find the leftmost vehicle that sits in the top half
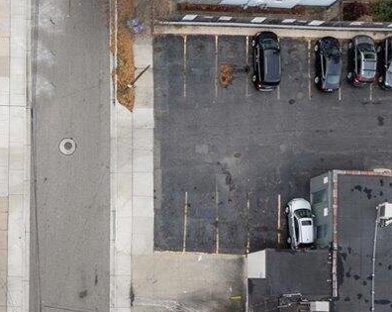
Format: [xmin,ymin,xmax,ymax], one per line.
[251,31,283,90]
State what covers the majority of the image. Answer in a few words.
paved ground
